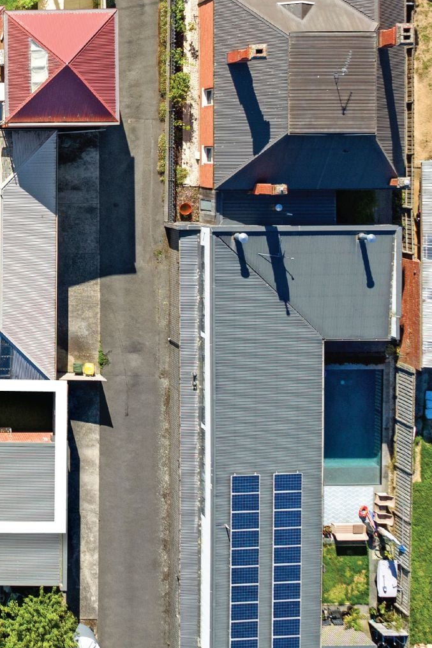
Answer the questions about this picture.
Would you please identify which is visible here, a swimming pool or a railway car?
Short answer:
swimming pool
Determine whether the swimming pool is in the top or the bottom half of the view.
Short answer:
bottom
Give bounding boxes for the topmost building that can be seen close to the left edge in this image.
[0,1,121,124]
